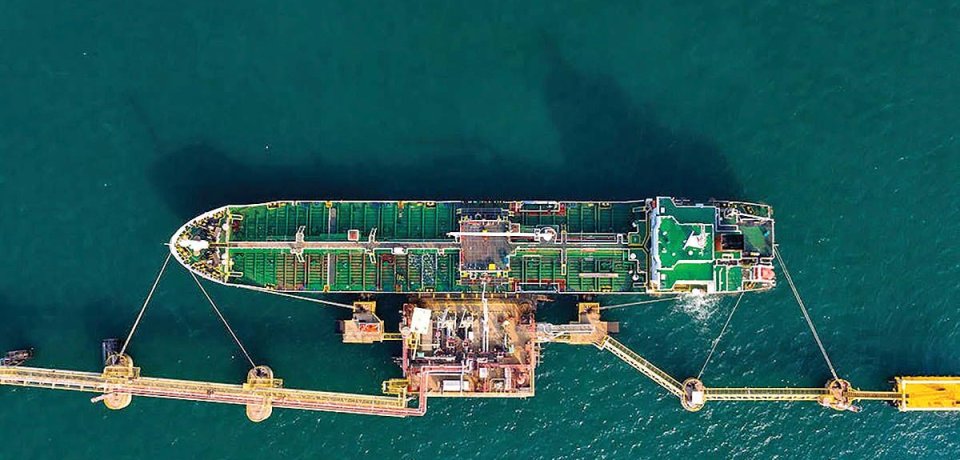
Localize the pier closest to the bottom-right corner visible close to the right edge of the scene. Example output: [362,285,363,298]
[891,374,960,411]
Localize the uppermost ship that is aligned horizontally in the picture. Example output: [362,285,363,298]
[166,197,776,294]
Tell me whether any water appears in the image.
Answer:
Yes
